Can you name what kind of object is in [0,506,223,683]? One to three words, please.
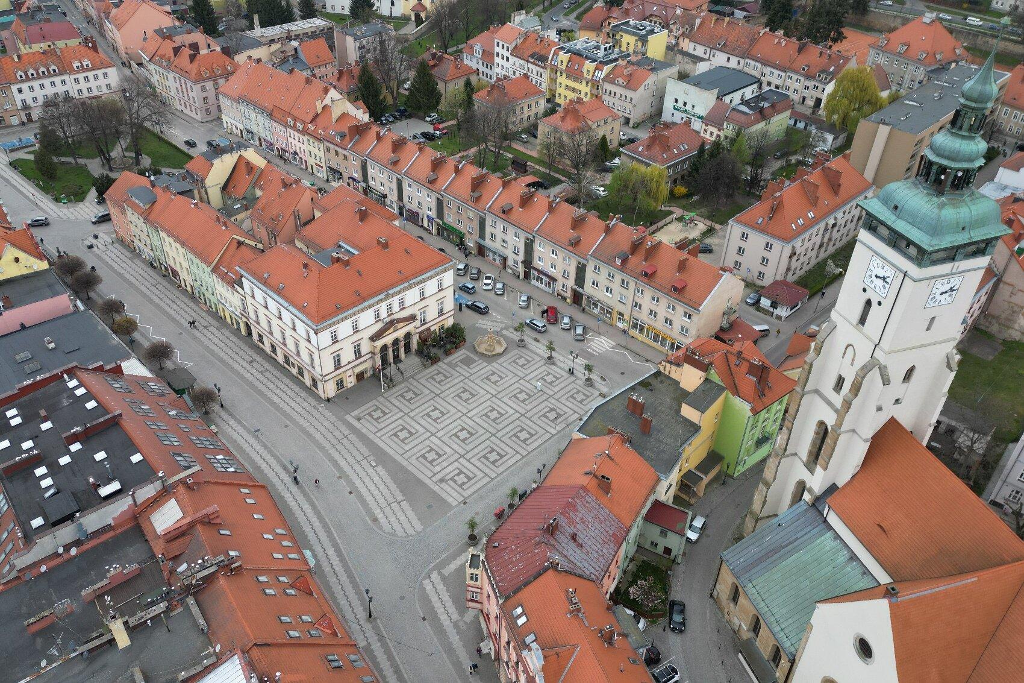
building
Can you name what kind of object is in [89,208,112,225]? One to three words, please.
vehicle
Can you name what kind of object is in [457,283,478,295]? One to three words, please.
vehicle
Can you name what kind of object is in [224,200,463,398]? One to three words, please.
building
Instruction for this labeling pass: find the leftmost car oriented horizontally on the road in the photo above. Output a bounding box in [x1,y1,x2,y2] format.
[26,215,51,227]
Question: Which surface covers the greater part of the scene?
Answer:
buildings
